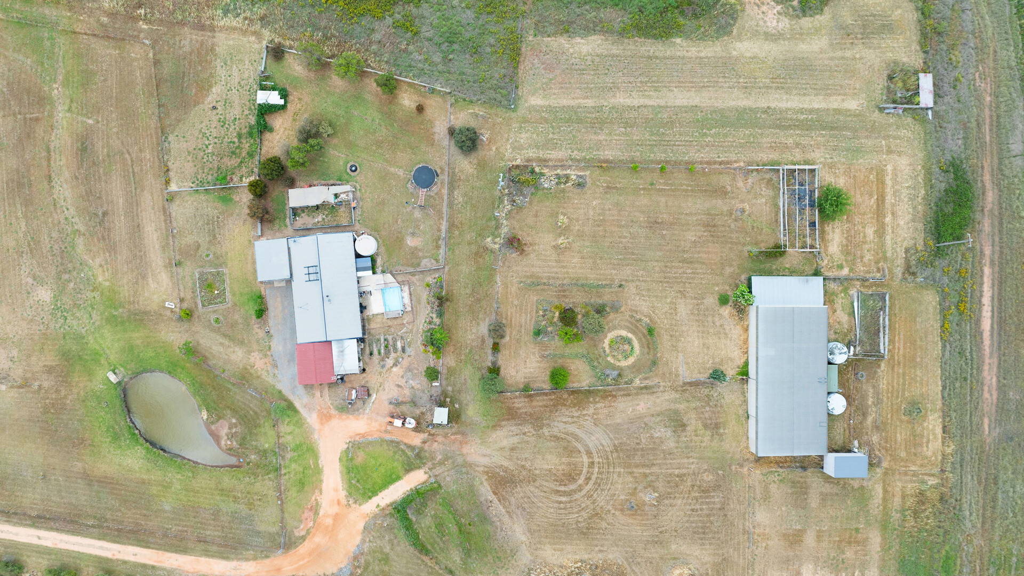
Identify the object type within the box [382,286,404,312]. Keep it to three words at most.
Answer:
swimming pool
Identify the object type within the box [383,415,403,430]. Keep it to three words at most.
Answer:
work vehicle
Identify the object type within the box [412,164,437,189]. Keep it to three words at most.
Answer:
trampoline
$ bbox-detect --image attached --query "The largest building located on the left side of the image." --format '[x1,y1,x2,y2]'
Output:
[253,232,363,344]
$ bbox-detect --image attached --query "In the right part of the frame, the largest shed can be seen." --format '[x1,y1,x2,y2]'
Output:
[748,305,828,457]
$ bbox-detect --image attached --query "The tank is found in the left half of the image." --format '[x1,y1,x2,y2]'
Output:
[353,233,380,257]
